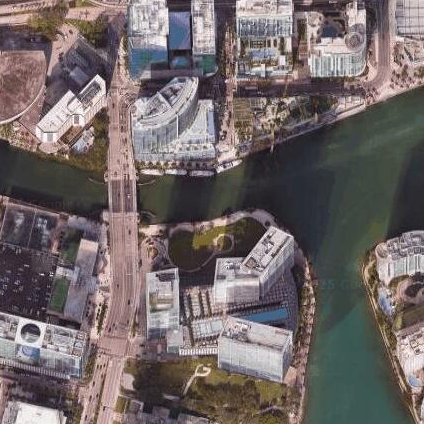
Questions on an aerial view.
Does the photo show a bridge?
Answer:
Yes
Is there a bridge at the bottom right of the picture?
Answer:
No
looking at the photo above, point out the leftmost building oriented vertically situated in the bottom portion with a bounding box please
[54,238,99,328]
